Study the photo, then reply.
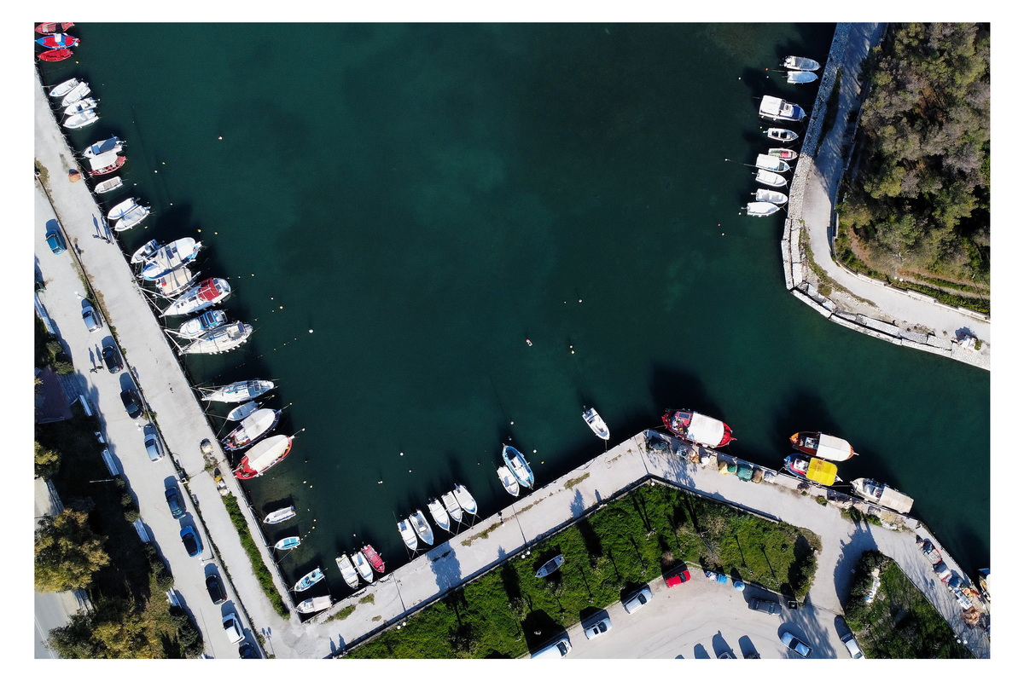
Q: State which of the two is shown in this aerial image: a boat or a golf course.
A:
boat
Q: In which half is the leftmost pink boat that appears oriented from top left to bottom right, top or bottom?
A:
bottom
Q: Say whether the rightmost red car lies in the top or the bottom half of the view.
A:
bottom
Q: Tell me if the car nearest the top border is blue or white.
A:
blue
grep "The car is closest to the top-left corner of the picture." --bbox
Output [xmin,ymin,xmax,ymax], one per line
[43,226,65,254]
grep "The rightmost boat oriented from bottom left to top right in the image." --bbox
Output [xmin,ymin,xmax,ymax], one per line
[536,558,565,577]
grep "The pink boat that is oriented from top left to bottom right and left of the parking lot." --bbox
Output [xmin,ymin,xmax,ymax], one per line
[360,542,390,582]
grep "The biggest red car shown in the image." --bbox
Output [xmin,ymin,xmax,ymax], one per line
[664,569,692,591]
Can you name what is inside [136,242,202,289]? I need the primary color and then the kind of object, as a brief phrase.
white boat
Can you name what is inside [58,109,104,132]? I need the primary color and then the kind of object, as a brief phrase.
white boat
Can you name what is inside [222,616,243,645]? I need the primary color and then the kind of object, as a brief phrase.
white car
